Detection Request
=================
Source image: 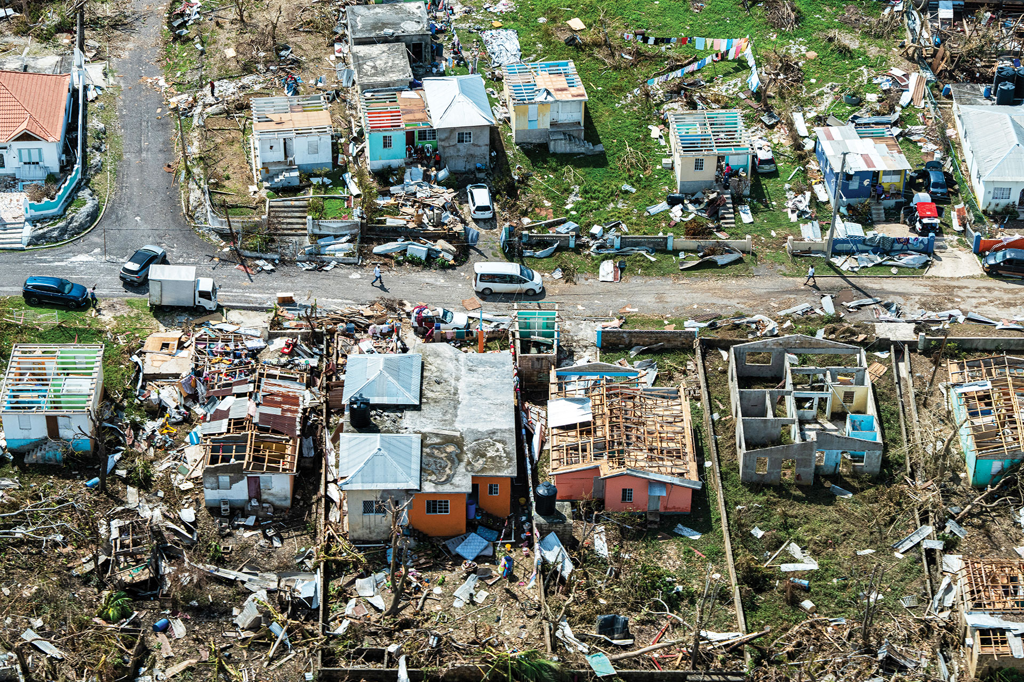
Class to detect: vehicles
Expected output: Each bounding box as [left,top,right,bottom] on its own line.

[120,240,178,283]
[913,150,961,197]
[466,179,495,216]
[750,138,781,173]
[408,297,472,331]
[901,195,949,229]
[16,266,87,303]
[979,240,1024,275]
[143,261,221,310]
[473,260,544,296]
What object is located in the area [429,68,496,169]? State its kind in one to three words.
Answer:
house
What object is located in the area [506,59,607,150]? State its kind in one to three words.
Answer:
house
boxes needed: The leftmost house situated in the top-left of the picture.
[0,92,80,199]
